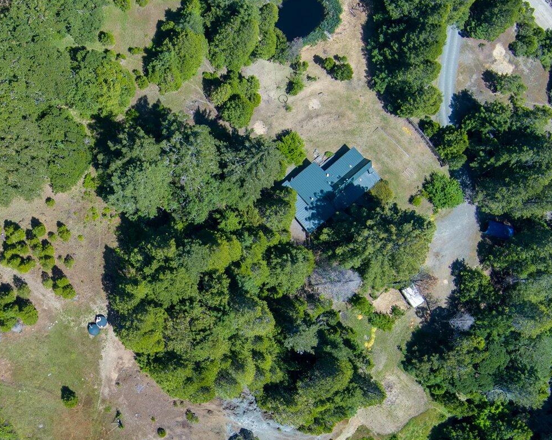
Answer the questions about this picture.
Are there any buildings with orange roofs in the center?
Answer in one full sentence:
No, I can find no building with an orange roof in the center.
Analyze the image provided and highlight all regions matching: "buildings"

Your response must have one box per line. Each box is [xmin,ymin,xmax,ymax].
[397,284,424,307]
[286,146,381,234]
